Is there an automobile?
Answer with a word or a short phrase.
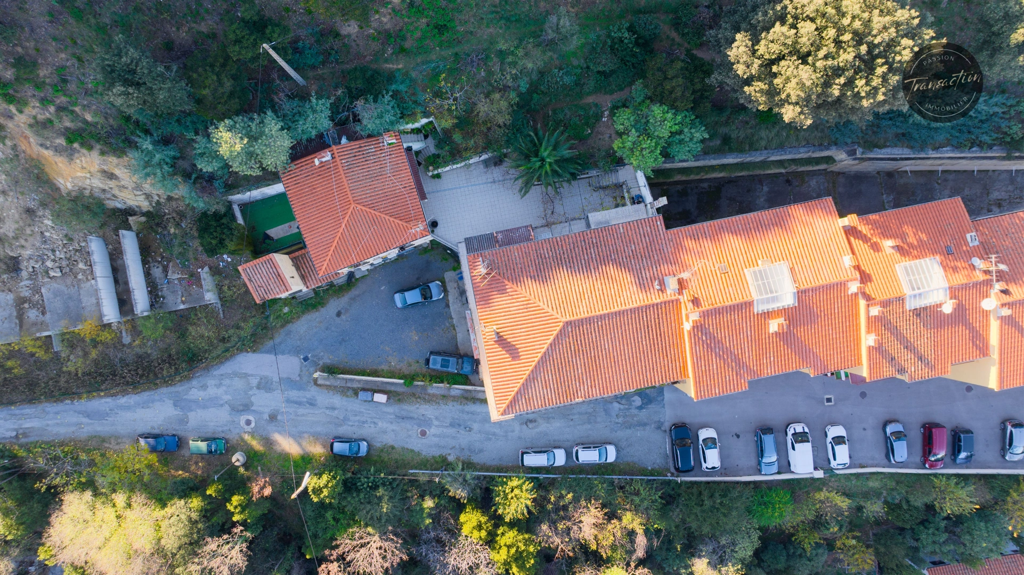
Yes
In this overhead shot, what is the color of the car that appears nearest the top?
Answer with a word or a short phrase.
blue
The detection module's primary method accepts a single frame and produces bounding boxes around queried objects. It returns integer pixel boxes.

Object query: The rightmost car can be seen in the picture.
[999,418,1024,462]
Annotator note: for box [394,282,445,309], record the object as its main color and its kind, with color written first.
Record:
blue car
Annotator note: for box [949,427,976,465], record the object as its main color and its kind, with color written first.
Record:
blue car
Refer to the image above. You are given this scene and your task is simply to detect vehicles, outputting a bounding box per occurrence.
[330,437,370,459]
[394,282,445,309]
[572,442,616,466]
[921,422,951,469]
[999,418,1024,462]
[949,427,976,465]
[519,446,565,470]
[786,422,816,477]
[697,427,722,471]
[187,436,229,458]
[423,353,476,377]
[670,422,695,474]
[754,426,780,474]
[823,423,850,469]
[882,420,910,464]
